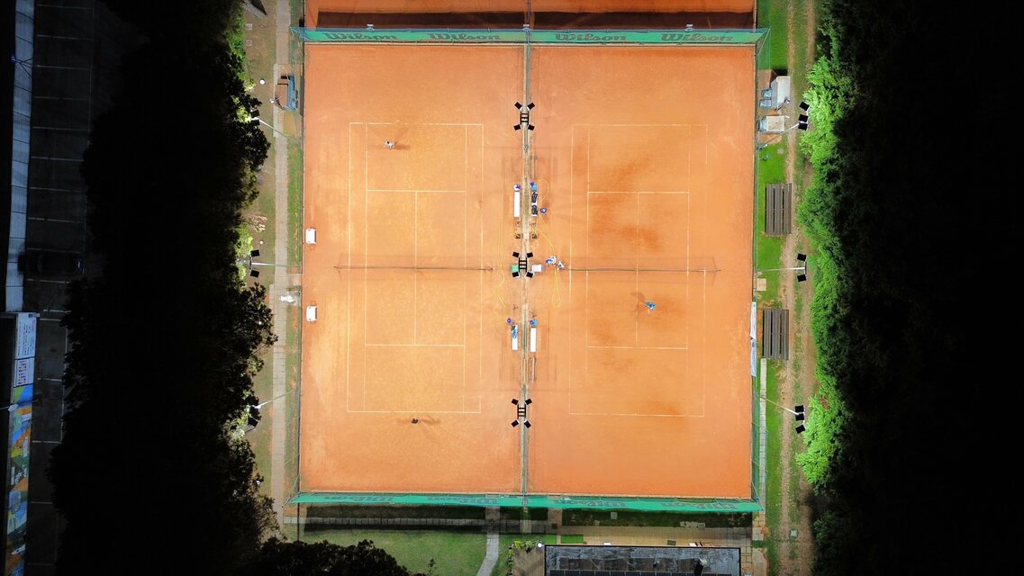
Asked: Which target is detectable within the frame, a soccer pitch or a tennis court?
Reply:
tennis court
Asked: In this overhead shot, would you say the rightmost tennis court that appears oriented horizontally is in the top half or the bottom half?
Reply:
top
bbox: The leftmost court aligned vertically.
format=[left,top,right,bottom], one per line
[300,45,521,495]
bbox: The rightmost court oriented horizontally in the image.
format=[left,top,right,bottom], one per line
[531,0,757,34]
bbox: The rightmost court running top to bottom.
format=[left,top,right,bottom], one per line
[528,46,755,499]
